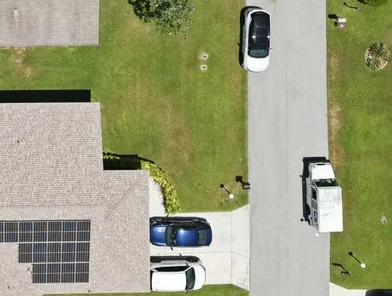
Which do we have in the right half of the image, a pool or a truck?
truck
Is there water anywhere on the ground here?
No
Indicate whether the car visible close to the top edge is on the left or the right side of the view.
right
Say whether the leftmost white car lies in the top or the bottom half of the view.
bottom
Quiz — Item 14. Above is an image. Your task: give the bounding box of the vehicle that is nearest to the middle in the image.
[149,216,212,249]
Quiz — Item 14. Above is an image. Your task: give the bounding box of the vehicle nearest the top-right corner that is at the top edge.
[239,8,273,72]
